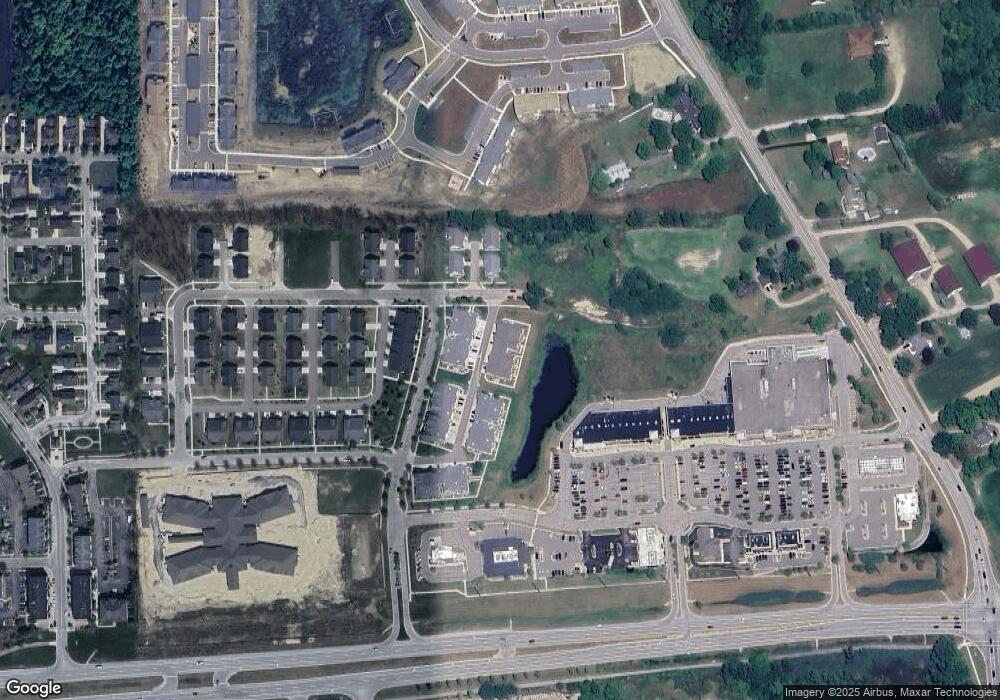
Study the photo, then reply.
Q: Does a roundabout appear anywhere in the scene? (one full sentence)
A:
No, this view has no roundabout in it.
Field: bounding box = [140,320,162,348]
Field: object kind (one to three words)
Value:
house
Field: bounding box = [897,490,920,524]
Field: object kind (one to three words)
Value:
building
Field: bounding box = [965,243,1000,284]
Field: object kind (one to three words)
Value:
barn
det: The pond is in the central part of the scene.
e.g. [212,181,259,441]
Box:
[513,340,577,479]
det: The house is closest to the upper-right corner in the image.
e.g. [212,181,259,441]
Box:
[848,27,876,58]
